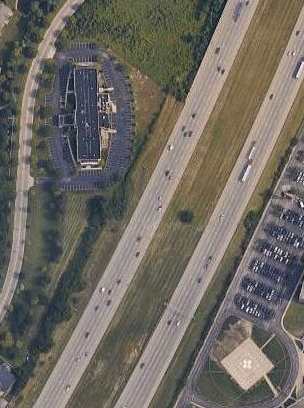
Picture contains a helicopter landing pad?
Yes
